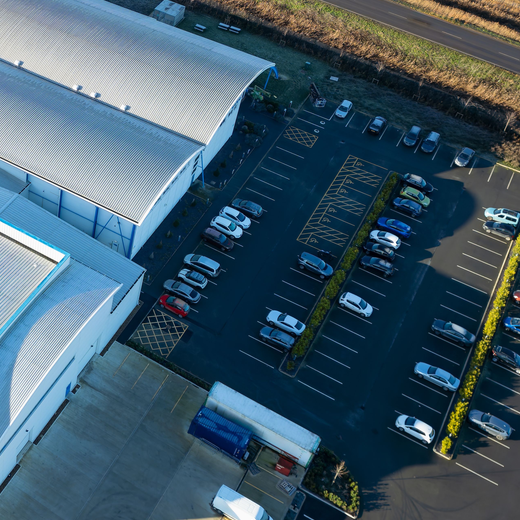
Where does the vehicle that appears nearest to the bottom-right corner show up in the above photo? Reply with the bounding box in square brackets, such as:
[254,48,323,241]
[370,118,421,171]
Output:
[467,410,514,441]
